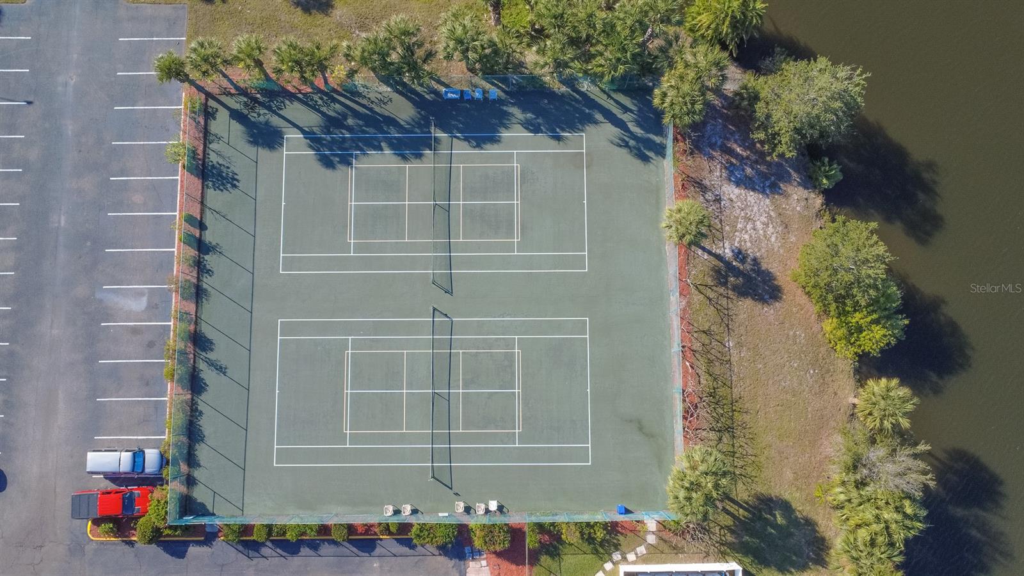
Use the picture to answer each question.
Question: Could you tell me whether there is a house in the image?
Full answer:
No, the picture doesn't show any house.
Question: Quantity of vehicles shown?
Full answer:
The number of vehicles here is 2.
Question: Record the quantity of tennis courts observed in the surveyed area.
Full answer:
There are 2 tennis courts in the image.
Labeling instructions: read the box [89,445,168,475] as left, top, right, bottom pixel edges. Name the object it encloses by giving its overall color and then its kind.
white truck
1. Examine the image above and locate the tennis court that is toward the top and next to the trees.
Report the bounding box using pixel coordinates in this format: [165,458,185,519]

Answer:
[197,92,670,297]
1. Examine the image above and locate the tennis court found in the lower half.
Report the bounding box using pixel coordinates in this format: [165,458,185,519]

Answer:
[188,294,677,515]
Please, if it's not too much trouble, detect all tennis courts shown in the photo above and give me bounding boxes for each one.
[197,92,670,297]
[188,294,677,515]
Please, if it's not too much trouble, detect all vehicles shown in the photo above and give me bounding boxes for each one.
[89,445,168,475]
[74,489,162,523]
